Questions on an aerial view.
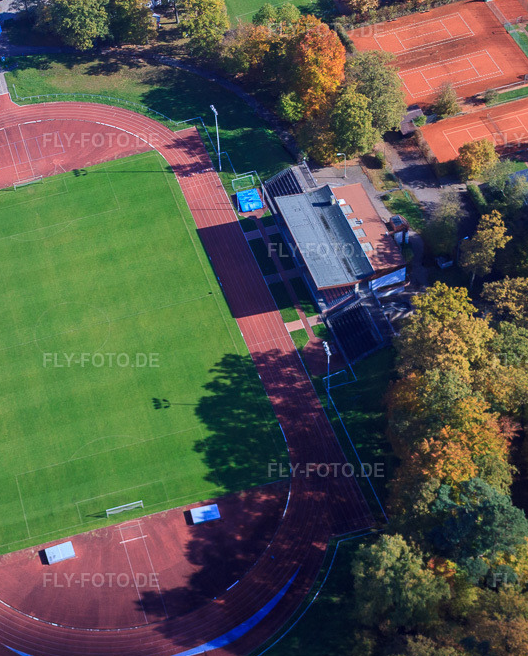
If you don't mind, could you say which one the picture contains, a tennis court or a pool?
tennis court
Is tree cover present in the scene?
Yes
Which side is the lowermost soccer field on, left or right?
left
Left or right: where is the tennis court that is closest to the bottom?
right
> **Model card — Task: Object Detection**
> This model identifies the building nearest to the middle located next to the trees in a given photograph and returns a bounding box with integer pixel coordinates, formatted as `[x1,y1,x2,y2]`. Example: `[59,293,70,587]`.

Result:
[332,180,411,295]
